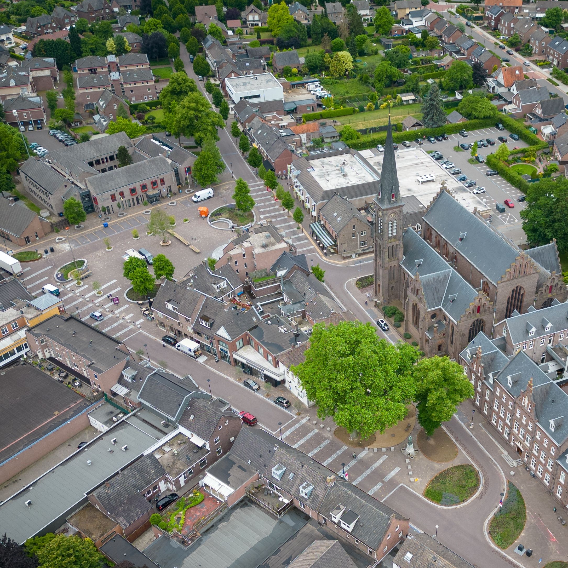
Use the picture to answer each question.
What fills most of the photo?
buildings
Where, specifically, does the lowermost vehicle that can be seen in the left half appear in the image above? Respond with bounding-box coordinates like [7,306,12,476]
[152,494,181,511]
